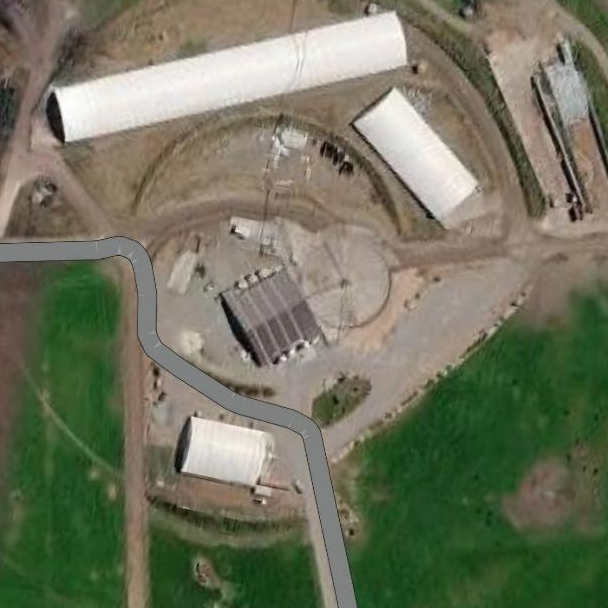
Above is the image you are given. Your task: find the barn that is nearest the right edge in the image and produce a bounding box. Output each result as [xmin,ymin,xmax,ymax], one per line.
[354,89,481,223]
